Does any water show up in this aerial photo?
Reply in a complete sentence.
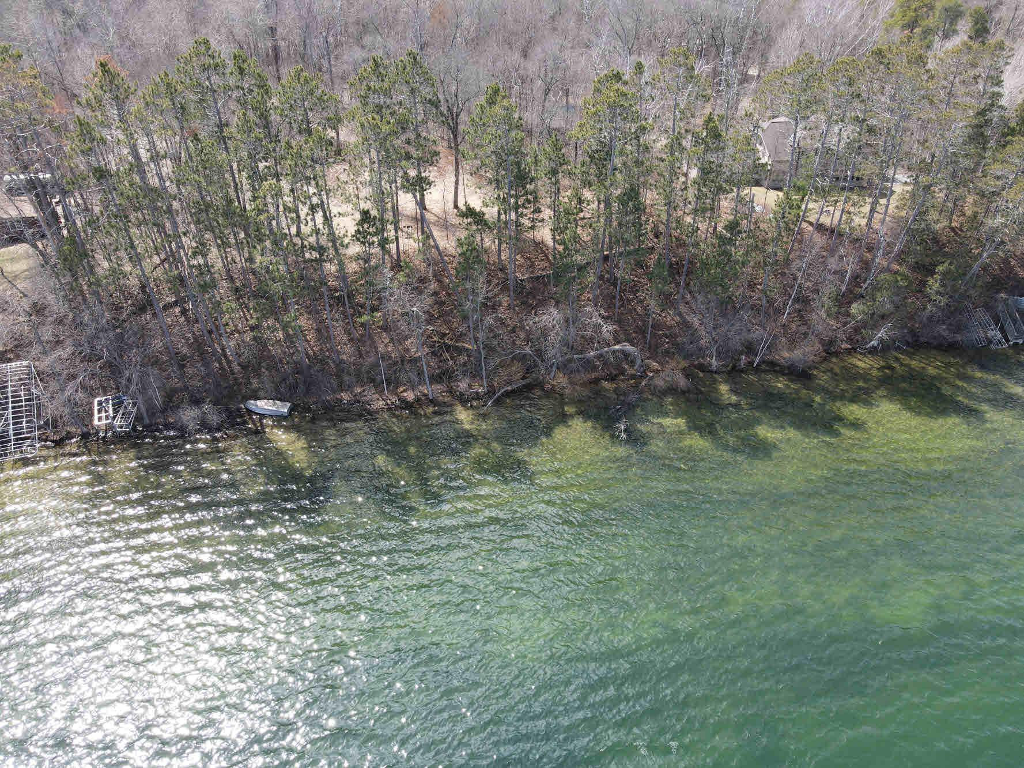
Yes, water shows up in the scene.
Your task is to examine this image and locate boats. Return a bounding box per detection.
[248,399,295,416]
